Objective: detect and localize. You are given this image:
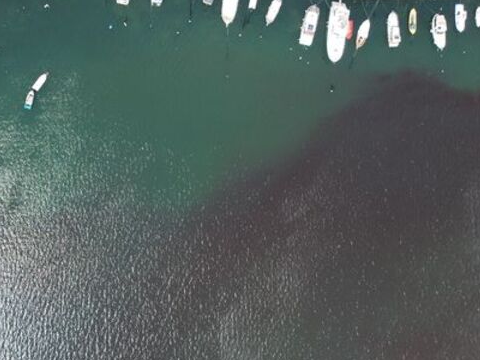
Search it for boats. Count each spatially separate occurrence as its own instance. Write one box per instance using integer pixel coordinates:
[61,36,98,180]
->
[266,0,283,28]
[474,3,480,29]
[221,0,240,26]
[243,0,259,28]
[33,70,49,92]
[24,90,36,110]
[453,0,468,32]
[297,0,321,47]
[348,21,354,40]
[202,0,215,7]
[325,0,350,62]
[385,0,402,47]
[408,8,417,36]
[431,9,449,52]
[352,0,378,60]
